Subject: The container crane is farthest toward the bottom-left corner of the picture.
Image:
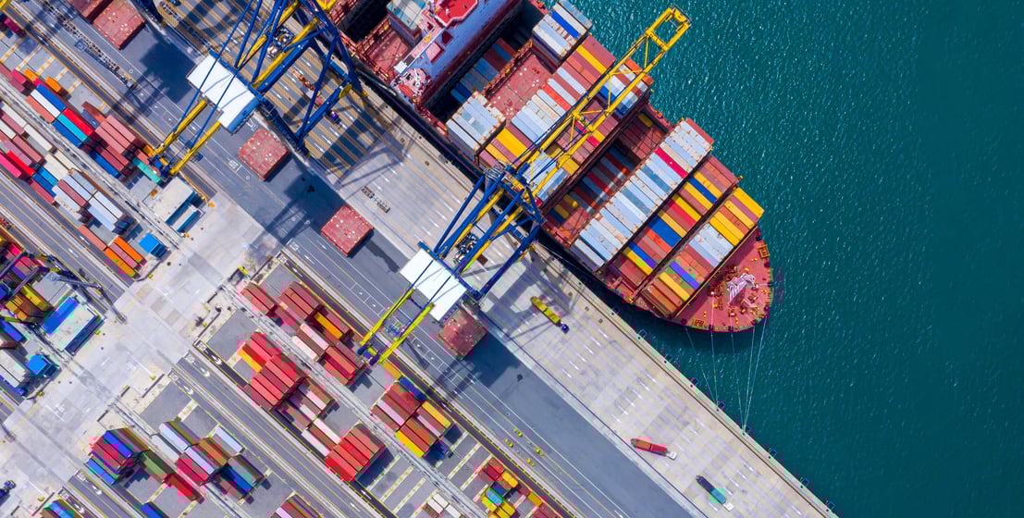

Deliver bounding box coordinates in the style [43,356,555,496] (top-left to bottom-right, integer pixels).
[0,250,89,335]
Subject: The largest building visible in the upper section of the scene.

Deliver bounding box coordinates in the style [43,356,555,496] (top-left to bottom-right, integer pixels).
[148,176,201,234]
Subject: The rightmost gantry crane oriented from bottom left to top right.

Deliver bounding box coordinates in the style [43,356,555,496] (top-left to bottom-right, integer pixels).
[352,3,694,371]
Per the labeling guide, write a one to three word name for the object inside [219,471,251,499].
shipping container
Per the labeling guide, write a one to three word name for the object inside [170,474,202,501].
shipping container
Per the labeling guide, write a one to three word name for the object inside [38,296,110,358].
building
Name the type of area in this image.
port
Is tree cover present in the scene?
No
